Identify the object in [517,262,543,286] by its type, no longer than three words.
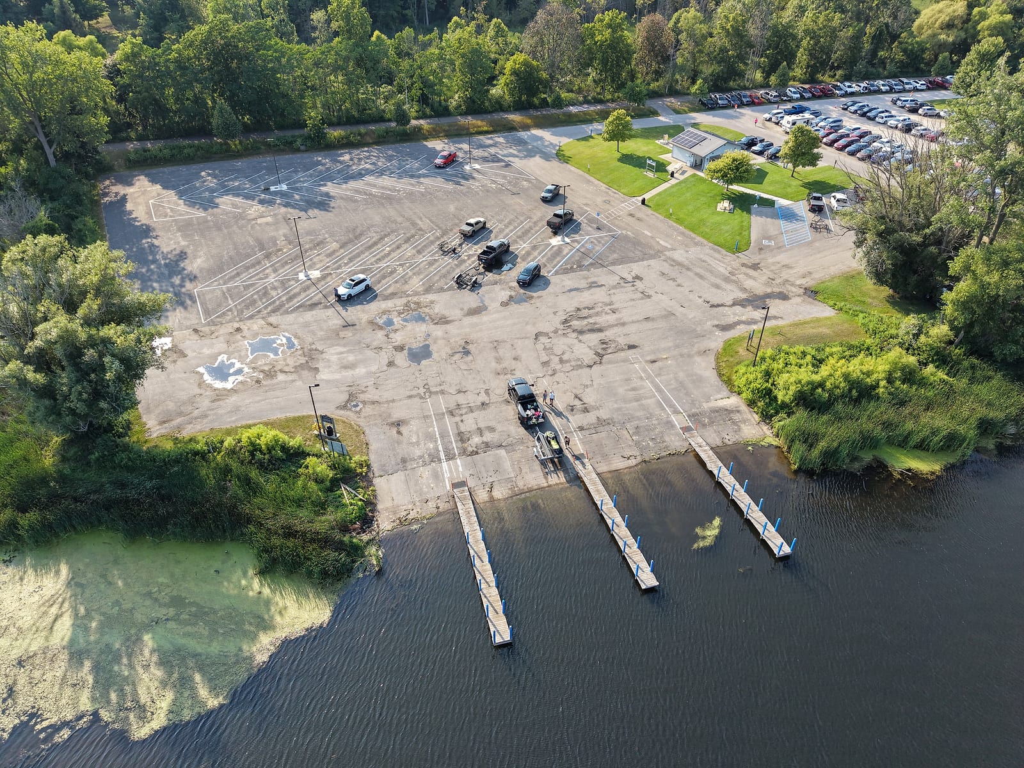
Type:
car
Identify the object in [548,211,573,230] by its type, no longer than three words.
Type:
vehicle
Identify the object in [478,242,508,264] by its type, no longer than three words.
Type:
truck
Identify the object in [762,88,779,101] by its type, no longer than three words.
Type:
vehicle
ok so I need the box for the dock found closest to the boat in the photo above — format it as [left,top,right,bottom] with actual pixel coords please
[568,446,663,592]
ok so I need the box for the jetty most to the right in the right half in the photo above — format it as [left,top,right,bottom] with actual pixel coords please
[679,421,796,559]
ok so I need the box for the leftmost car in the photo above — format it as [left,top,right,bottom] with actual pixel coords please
[332,273,370,299]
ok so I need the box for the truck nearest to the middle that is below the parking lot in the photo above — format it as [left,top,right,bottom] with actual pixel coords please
[511,378,544,423]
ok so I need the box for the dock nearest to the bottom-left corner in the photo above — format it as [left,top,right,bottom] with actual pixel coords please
[450,477,516,647]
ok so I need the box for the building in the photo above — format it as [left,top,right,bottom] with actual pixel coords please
[668,128,754,172]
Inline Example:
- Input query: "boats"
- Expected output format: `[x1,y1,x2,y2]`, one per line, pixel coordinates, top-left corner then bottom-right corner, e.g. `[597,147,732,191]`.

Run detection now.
[547,428,565,454]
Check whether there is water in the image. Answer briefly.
Yes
